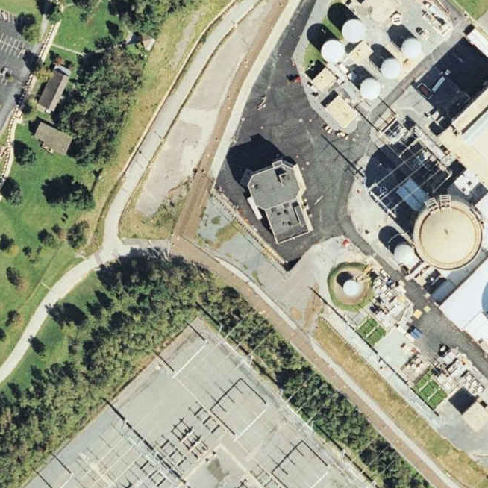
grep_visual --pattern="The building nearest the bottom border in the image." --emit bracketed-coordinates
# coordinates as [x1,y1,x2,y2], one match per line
[463,398,488,431]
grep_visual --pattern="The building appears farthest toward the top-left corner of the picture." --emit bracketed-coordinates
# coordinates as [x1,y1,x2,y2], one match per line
[38,64,71,111]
